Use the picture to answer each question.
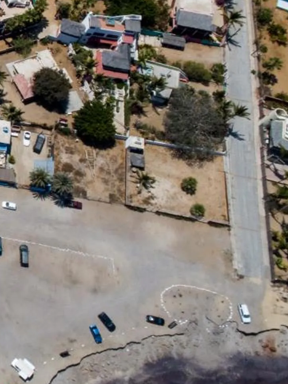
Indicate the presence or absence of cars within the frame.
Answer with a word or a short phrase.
Yes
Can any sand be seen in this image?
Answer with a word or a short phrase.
Yes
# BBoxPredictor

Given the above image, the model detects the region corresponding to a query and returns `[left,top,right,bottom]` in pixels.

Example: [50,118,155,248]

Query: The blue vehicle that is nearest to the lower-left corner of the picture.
[88,324,103,345]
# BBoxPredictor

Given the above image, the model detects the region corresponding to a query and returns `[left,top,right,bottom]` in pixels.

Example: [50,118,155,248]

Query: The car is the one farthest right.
[235,303,252,324]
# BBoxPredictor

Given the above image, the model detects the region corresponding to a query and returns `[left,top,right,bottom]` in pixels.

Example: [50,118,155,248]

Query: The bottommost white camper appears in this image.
[12,357,35,382]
